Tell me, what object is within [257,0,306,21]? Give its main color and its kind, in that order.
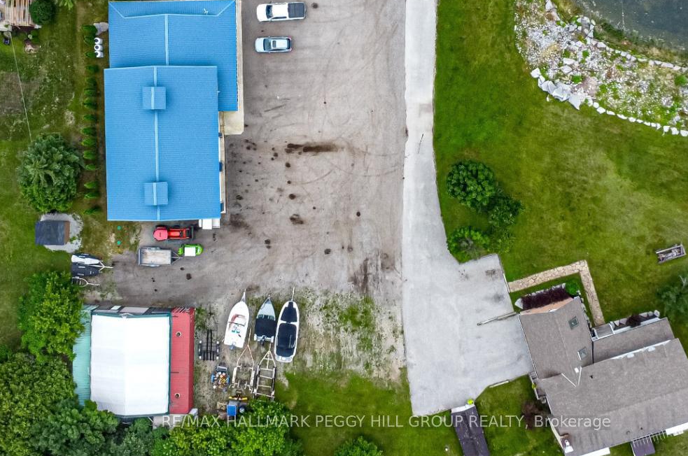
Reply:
white vehicle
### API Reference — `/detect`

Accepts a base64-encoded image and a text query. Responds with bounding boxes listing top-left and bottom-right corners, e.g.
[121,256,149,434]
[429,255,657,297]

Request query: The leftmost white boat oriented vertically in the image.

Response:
[223,289,248,351]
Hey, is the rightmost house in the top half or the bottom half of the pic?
bottom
